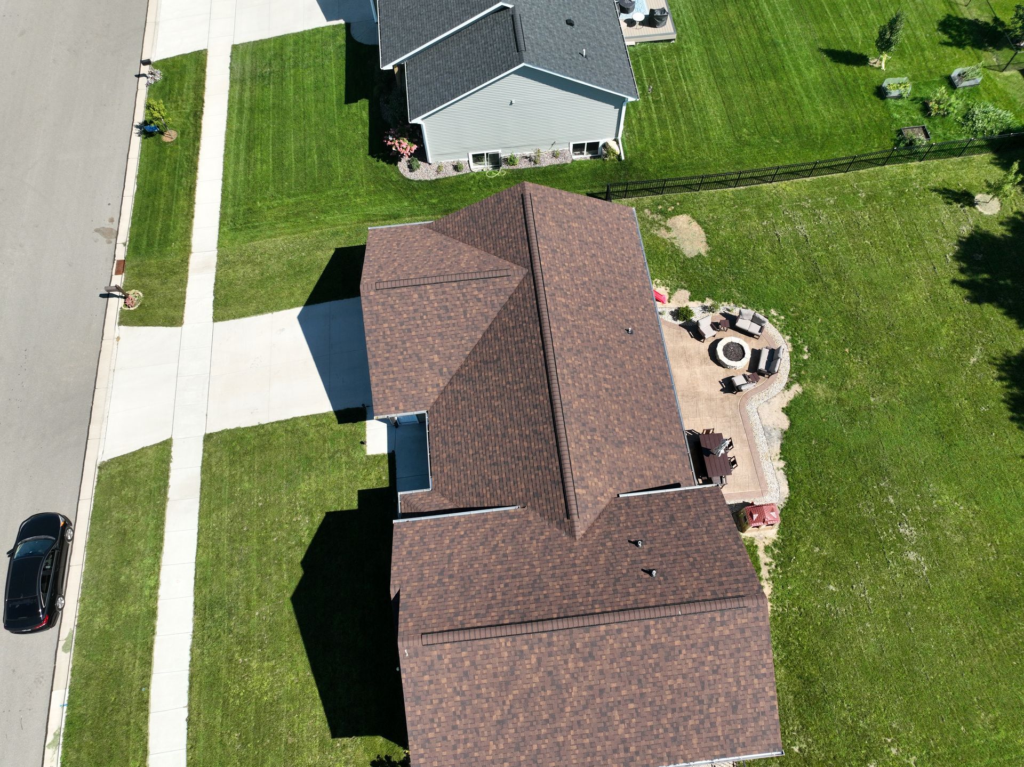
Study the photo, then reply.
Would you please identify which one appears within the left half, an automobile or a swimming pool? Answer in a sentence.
Visible within the left half is an automobile.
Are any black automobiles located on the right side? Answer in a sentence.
No, no black automobile is visible on the right side.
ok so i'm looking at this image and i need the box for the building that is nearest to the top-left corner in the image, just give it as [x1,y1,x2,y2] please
[365,0,642,171]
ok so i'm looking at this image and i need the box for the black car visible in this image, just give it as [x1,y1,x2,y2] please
[3,512,76,632]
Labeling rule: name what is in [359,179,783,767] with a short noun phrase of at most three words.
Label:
house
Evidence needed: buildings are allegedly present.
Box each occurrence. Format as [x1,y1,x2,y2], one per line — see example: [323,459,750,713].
[359,179,783,767]
[365,0,642,171]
